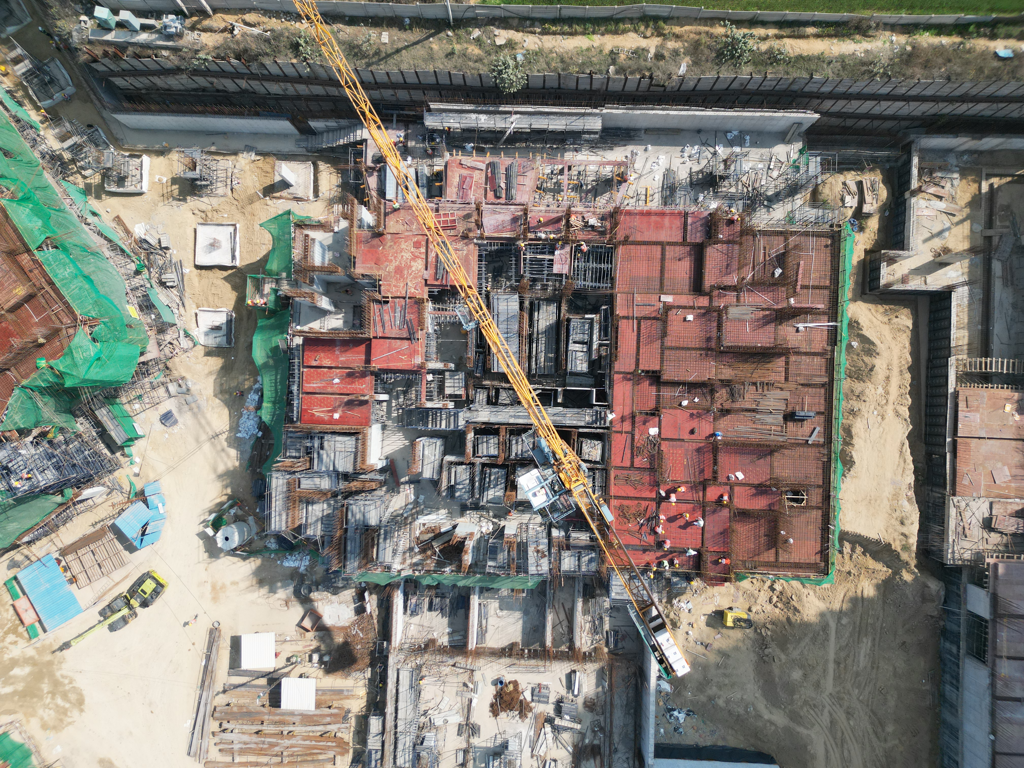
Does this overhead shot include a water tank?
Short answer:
Yes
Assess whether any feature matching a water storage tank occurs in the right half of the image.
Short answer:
No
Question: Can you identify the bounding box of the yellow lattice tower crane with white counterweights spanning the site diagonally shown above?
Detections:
[296,0,699,687]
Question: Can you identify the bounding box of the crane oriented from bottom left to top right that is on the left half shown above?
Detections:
[62,564,175,656]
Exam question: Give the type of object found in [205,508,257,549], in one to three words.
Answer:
water tank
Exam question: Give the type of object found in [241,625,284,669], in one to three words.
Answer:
shed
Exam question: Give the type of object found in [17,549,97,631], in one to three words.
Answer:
shed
